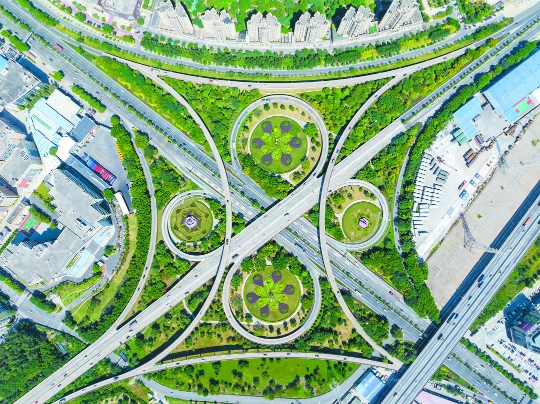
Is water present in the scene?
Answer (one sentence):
No, there's no water in this view.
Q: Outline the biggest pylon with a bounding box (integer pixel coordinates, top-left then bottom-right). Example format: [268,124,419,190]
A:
[462,239,498,258]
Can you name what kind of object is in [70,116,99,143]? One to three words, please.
shed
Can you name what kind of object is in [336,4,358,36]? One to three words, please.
building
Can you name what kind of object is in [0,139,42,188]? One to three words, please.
building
